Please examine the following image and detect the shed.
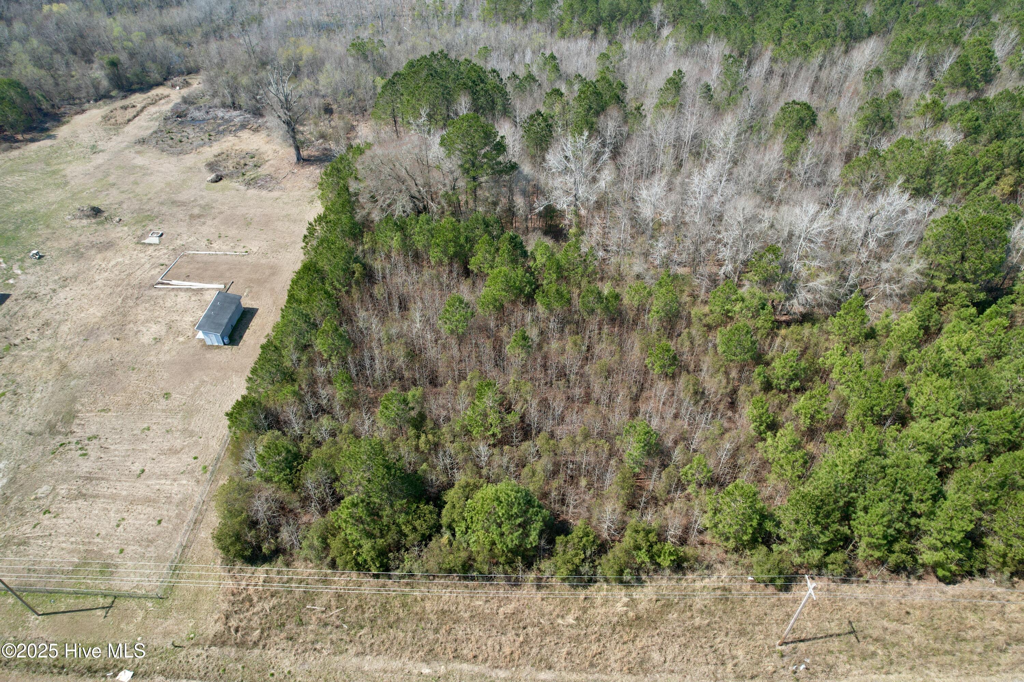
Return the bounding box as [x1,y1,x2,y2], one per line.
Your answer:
[193,292,244,345]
